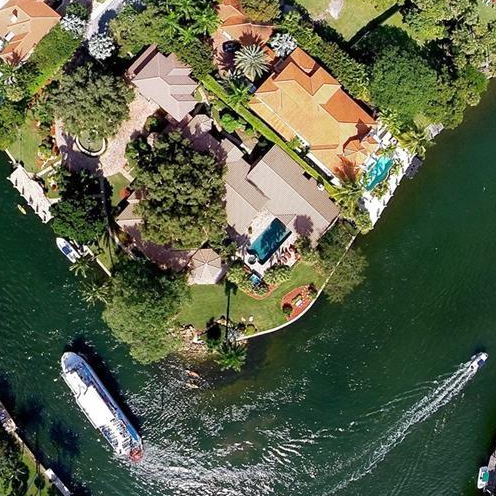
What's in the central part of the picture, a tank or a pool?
pool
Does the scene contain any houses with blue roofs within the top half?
No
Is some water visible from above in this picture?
Yes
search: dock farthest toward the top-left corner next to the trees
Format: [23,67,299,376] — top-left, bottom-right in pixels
[8,164,54,223]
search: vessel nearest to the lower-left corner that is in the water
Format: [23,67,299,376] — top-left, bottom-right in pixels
[64,355,145,462]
